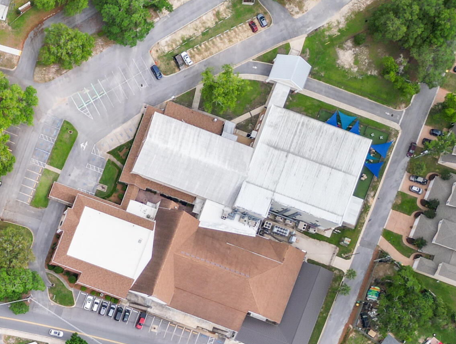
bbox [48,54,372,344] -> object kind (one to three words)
church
